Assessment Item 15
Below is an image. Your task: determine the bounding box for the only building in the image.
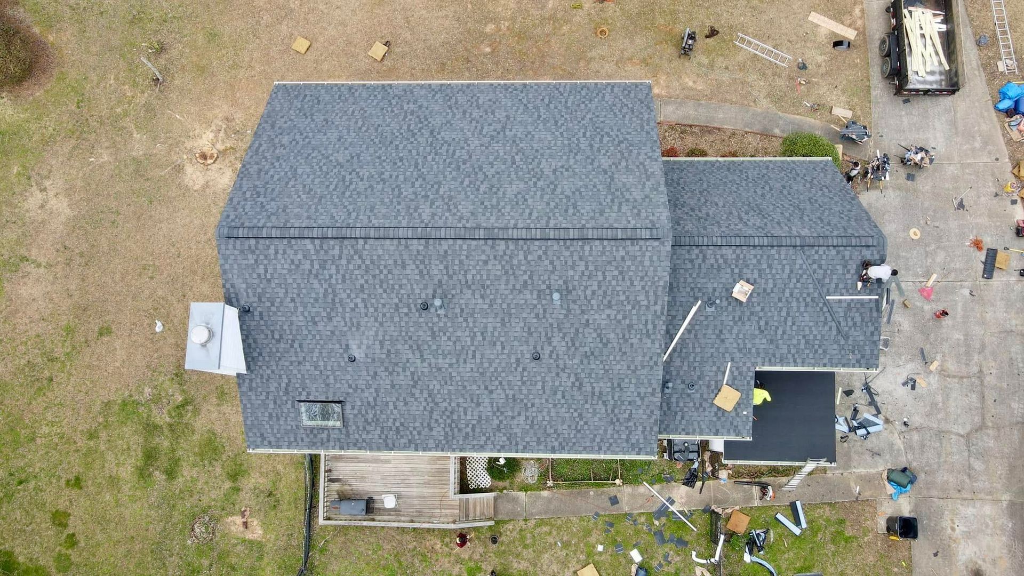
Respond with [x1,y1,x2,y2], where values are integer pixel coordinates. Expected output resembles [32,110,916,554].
[184,80,883,467]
